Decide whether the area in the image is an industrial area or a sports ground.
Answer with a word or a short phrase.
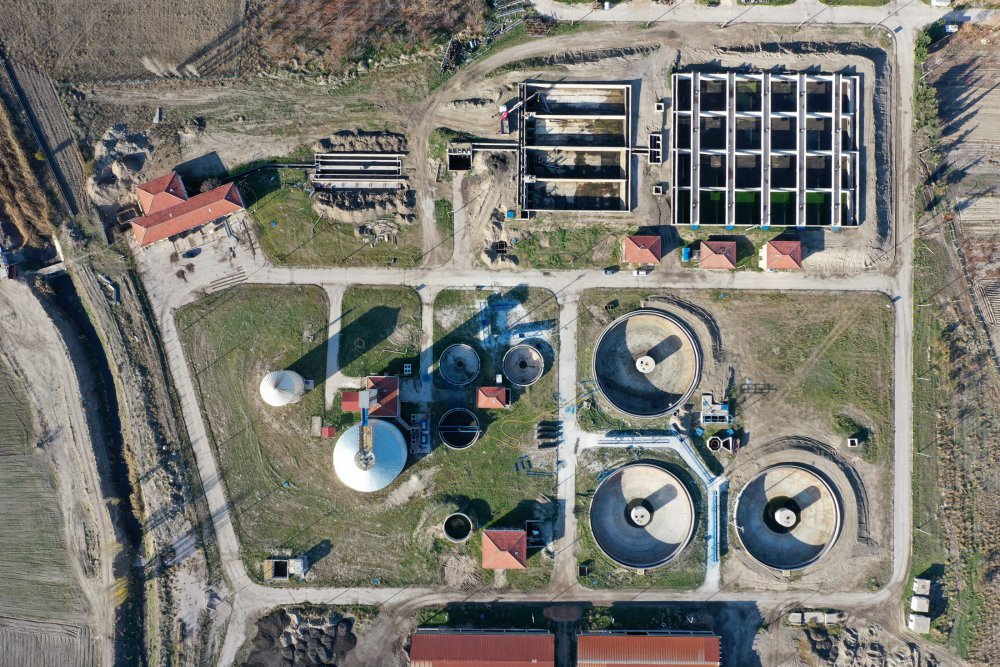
industrial area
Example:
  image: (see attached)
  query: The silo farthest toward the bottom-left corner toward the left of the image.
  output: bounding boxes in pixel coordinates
[259,370,304,408]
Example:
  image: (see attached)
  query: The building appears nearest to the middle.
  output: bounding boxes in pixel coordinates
[478,387,506,408]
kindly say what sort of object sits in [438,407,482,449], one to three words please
storage tank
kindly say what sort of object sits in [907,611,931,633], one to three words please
building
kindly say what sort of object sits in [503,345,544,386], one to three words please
storage tank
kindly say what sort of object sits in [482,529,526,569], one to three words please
building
